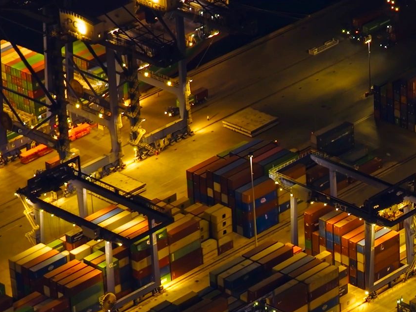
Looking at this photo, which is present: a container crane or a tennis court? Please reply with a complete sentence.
It is a container crane that can be seen here.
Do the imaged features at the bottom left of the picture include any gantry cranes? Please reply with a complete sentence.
Yes, I can see a gantry crane at the bottom left of the picture.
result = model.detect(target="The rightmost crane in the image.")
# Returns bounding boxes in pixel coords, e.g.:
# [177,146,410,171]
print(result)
[259,150,416,301]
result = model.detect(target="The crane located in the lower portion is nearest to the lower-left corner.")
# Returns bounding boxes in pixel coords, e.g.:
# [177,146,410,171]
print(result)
[3,163,176,312]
